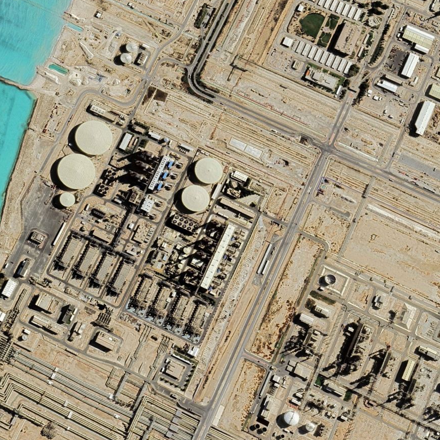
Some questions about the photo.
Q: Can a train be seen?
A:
Yes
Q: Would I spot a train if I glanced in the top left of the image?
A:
No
